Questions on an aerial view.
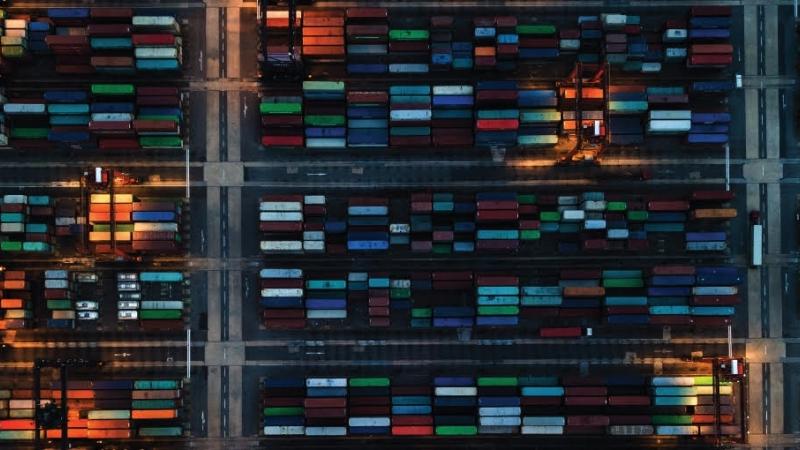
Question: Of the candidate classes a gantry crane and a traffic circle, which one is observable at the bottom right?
gantry crane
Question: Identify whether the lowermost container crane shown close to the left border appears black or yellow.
black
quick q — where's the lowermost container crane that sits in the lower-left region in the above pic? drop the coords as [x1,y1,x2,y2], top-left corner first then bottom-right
[32,359,101,450]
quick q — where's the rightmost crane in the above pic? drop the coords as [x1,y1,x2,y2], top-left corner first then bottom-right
[680,355,752,445]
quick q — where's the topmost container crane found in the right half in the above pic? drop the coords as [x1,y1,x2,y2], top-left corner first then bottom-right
[552,59,610,165]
